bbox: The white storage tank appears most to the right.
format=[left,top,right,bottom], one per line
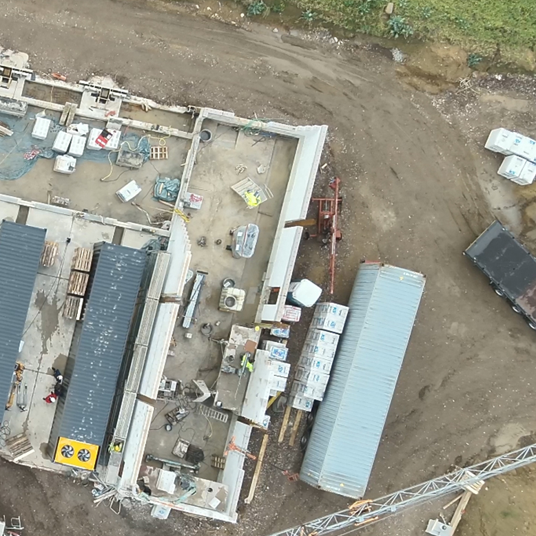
[285,279,322,308]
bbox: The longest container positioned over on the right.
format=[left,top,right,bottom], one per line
[302,266,422,496]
